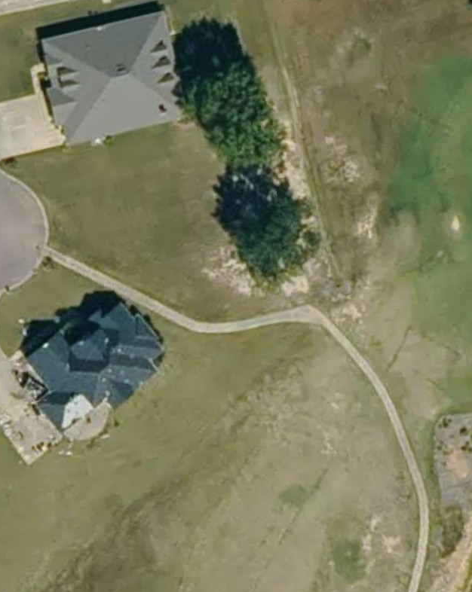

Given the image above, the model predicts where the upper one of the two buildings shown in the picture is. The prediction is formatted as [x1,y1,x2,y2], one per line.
[40,8,184,142]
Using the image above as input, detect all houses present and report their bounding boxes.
[40,8,184,142]
[27,302,164,430]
